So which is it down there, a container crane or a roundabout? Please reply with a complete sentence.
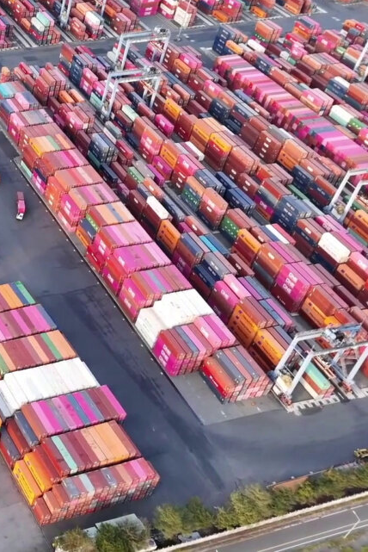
Of the two, only a container crane appears.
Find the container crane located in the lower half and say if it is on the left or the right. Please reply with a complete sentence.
The container crane located in the lower half appears in the right half of the scene.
